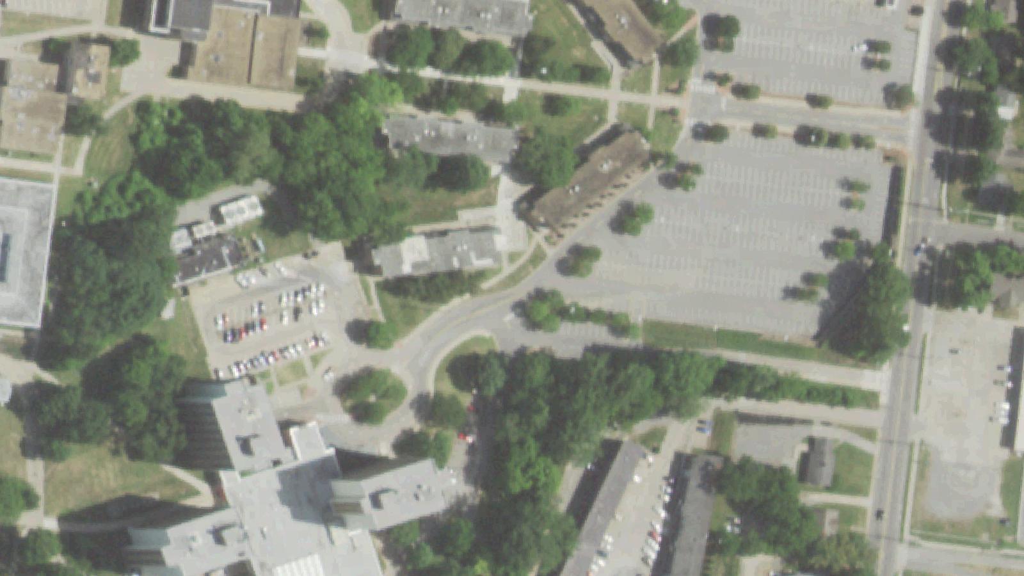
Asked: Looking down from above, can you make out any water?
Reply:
No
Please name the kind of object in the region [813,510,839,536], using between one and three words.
house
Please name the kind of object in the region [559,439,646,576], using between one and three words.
building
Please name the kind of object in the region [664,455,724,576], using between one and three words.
building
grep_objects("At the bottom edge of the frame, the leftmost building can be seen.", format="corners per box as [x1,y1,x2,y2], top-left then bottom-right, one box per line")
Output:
[126,380,444,576]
